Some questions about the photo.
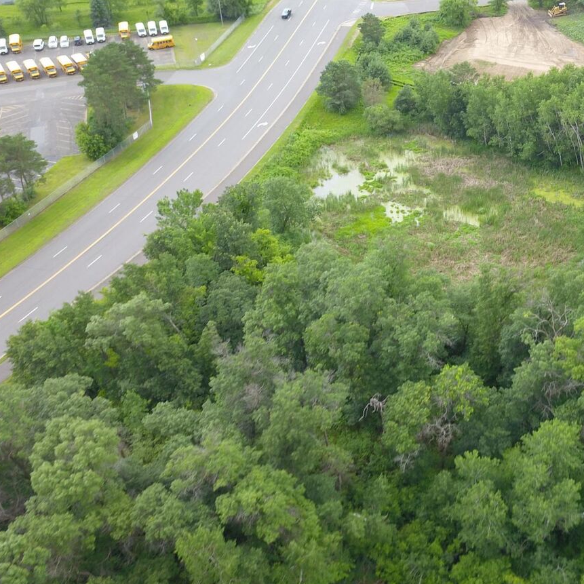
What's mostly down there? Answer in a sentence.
For the most part, this view shows trees.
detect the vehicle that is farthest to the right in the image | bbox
[547,3,568,17]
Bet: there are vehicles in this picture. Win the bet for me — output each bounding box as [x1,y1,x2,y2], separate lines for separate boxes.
[134,21,147,36]
[0,38,8,53]
[5,58,23,79]
[38,55,57,76]
[48,36,58,47]
[22,57,40,77]
[547,3,568,17]
[0,63,8,82]
[55,53,75,74]
[119,21,129,37]
[279,6,294,17]
[157,19,169,33]
[144,20,157,35]
[60,36,70,47]
[94,26,105,40]
[147,36,175,51]
[70,50,88,70]
[75,36,83,45]
[83,29,94,43]
[10,34,22,52]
